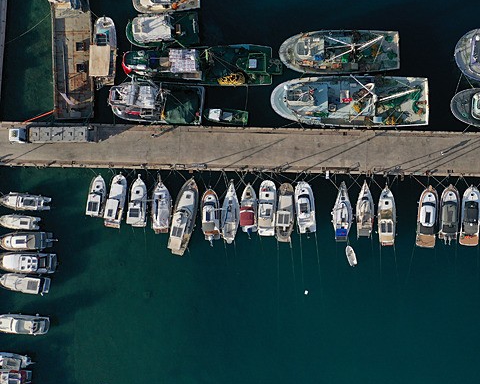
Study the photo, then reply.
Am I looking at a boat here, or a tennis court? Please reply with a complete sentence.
Of the two, only a boat appears.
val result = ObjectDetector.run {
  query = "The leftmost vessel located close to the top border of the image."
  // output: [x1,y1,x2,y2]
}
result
[4,0,100,126]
